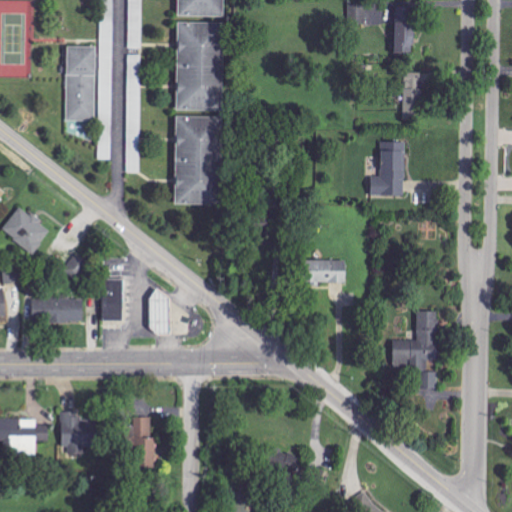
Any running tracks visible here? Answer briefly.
No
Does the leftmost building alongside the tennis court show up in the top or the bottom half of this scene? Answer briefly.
top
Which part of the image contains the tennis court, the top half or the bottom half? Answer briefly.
top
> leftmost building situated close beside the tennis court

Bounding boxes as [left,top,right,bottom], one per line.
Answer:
[65,45,96,122]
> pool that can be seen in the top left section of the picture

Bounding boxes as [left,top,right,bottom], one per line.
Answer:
[64,121,96,144]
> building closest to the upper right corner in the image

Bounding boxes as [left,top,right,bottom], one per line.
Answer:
[394,12,414,54]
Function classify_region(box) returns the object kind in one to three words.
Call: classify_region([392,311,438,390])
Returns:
house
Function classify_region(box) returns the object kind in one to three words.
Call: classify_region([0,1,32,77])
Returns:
tennis court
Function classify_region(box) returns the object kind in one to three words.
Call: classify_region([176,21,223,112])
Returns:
building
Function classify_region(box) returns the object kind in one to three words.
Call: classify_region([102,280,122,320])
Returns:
building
